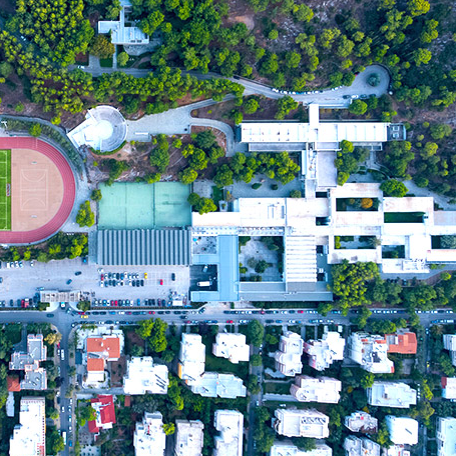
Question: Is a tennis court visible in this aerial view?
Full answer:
Yes, there is a tennis court in the image.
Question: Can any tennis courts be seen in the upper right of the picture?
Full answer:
No, I see no tennis court in the upper right of the picture.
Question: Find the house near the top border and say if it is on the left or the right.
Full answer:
The house near the top border appears in the left half of the scene.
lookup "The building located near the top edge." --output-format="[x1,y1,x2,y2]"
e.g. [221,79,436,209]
[98,0,149,46]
